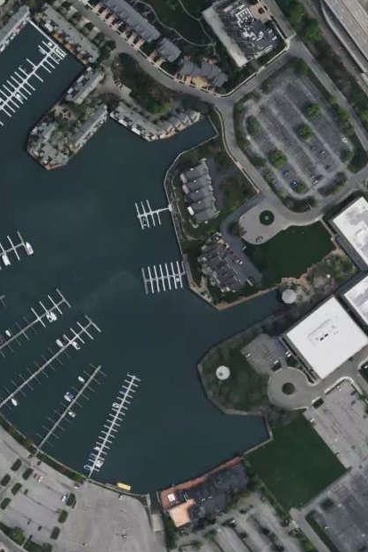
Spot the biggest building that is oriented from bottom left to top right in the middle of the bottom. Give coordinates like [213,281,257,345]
[182,465,247,517]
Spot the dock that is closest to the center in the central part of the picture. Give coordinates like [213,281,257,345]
[142,261,185,294]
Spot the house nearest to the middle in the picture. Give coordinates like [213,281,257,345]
[199,234,246,292]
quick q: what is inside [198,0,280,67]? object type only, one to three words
building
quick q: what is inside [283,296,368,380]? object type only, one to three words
building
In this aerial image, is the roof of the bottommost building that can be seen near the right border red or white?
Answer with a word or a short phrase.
white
